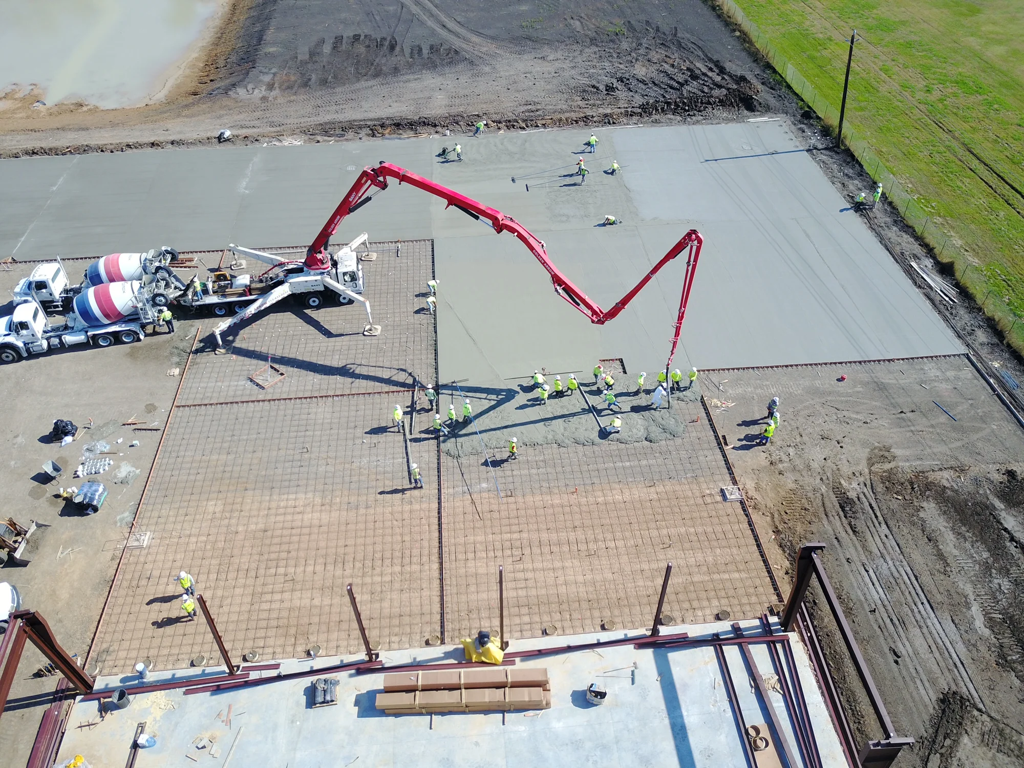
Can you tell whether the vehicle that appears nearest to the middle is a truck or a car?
truck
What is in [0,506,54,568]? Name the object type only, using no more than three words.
work vehicle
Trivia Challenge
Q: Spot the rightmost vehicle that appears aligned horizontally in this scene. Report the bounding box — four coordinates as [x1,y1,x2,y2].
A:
[176,158,705,407]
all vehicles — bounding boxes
[0,268,194,362]
[0,506,54,568]
[0,579,29,624]
[0,243,199,318]
[176,158,705,407]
